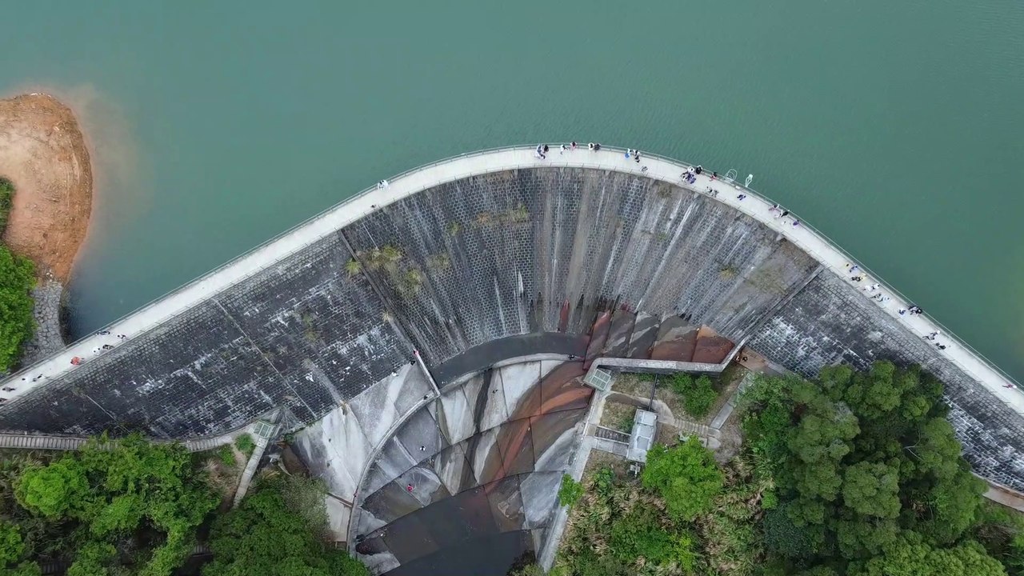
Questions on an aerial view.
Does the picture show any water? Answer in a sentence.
Yes, there's water in this view.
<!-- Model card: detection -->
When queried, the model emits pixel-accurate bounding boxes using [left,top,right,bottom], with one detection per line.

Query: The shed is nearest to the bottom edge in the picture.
[625,409,657,462]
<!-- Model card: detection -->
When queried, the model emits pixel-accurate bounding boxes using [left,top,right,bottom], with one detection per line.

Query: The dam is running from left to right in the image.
[0,144,1024,492]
